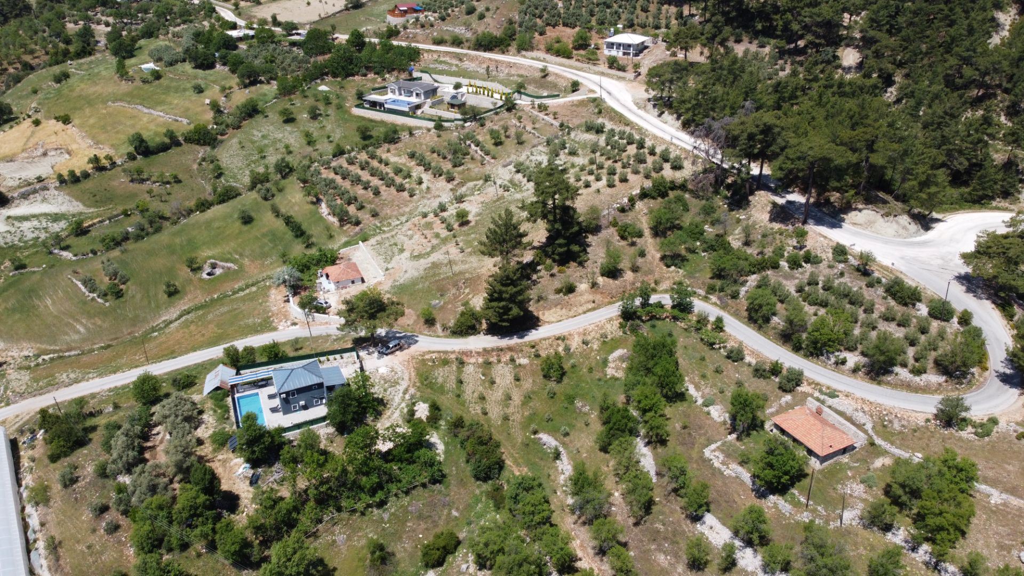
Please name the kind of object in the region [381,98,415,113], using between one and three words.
swimming pool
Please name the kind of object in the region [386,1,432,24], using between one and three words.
building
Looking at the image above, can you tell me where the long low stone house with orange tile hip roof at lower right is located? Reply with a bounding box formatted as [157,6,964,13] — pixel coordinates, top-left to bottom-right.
[771,401,858,466]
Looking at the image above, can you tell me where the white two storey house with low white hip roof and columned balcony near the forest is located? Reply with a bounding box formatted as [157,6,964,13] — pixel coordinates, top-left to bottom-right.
[603,29,646,55]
